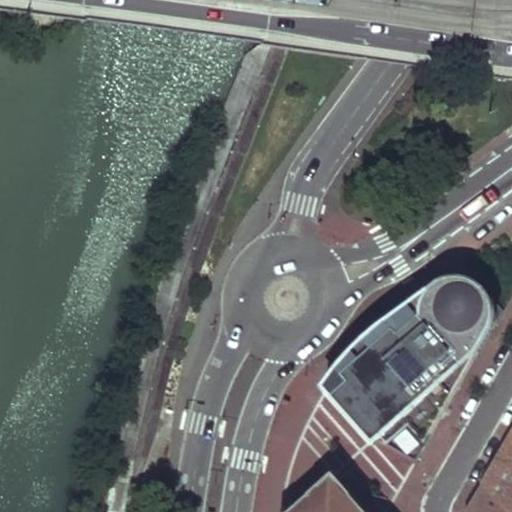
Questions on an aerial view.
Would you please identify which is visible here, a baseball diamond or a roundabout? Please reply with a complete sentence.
Looking from above, you can make out a roundabout.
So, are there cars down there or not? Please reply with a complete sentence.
Yes, this view includes a car.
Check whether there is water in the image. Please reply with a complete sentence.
Yes, there's water in this view.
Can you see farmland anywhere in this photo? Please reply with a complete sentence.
No, the scene doesn't show any farmland.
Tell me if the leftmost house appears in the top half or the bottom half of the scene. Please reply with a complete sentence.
It is in the bottom half that the leftmost house appears.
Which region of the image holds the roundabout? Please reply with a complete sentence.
You can find the roundabout in the center area of the picture.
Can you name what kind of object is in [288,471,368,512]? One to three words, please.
house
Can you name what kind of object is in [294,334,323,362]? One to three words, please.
vehicle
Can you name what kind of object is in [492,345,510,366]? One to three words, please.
car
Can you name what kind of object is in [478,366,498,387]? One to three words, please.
car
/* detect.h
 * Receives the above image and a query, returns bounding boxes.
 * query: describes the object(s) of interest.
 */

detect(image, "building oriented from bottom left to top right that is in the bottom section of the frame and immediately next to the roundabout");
[318,276,494,443]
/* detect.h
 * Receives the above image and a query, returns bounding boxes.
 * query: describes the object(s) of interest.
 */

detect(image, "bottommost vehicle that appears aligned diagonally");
[469,460,486,482]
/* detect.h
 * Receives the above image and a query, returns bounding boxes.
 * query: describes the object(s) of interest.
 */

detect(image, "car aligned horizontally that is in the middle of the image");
[274,262,297,274]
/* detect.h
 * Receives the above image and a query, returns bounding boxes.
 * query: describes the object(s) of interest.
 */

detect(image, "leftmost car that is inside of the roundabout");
[226,325,244,350]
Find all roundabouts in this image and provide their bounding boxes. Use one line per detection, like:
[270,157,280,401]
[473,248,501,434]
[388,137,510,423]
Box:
[213,212,360,364]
